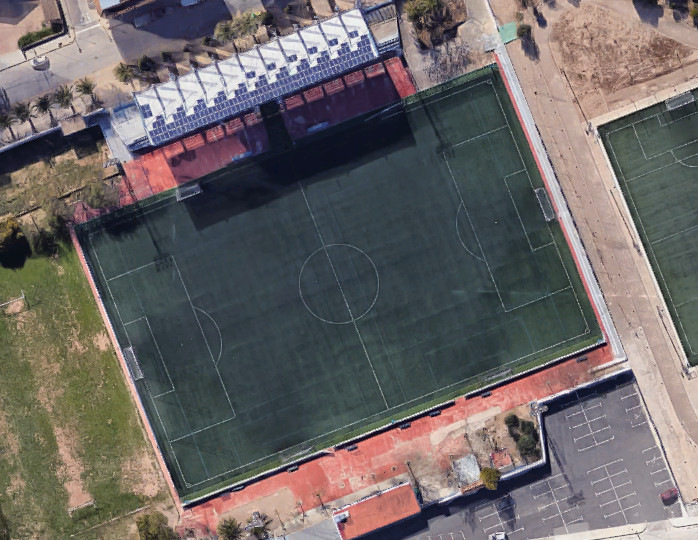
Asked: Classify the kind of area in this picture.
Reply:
sports ground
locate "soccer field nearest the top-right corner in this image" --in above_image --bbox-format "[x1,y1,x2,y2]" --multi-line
[601,90,698,367]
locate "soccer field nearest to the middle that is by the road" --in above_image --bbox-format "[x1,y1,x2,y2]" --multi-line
[76,65,607,505]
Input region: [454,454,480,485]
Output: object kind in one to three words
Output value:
shed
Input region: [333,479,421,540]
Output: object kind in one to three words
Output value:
building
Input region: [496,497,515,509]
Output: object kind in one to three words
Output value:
vehicle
